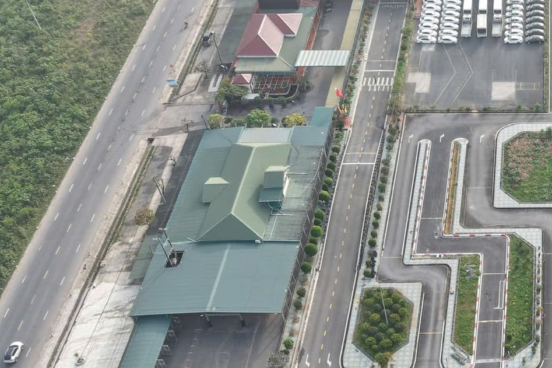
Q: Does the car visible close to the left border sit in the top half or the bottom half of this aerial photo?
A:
bottom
